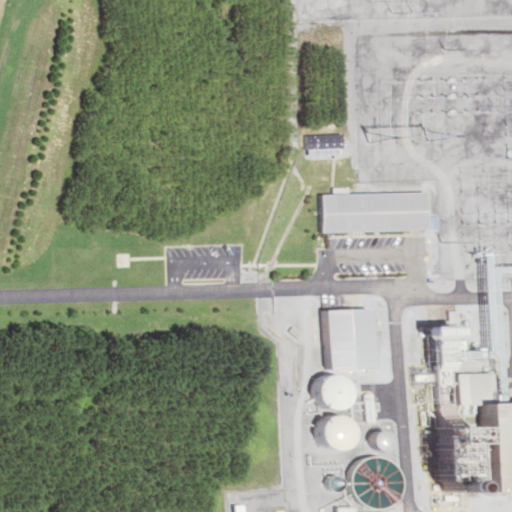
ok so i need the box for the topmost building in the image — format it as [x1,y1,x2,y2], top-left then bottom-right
[302,135,344,150]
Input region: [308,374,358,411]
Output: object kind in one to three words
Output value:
storage tank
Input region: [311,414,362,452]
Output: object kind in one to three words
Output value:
storage tank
